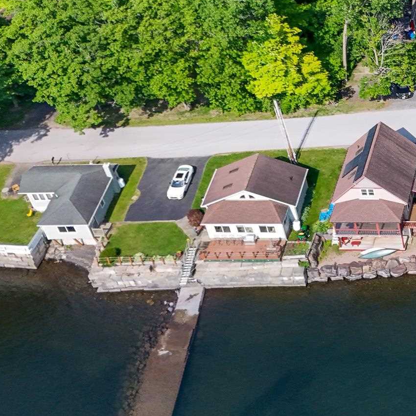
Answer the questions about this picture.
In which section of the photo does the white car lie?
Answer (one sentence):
You can find the white car in the center area of the picture.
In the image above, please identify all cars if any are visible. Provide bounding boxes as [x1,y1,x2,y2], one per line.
[165,164,192,198]
[394,71,412,94]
